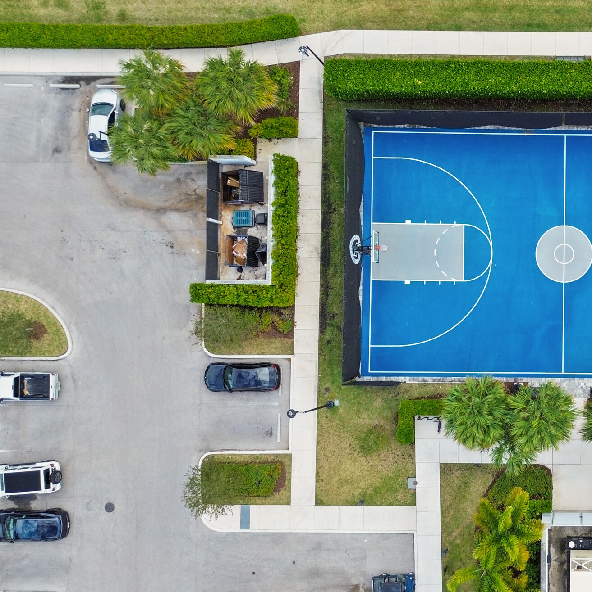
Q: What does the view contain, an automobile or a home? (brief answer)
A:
automobile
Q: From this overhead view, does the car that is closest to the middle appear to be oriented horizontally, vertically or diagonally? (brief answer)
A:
horizontally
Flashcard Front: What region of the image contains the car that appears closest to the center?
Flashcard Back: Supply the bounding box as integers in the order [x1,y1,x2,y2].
[206,359,284,396]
